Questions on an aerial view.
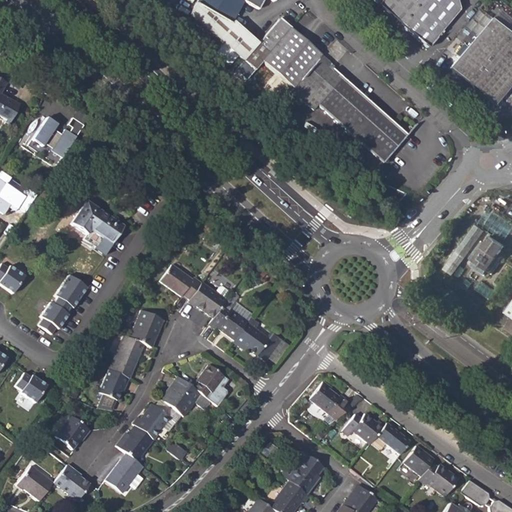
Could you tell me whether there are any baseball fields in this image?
No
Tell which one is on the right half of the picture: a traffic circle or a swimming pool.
traffic circle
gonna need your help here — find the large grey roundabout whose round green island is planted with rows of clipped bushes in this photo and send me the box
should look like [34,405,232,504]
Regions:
[309,234,400,325]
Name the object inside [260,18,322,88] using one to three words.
building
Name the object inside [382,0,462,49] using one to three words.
building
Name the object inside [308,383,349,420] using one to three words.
house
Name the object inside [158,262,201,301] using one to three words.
house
